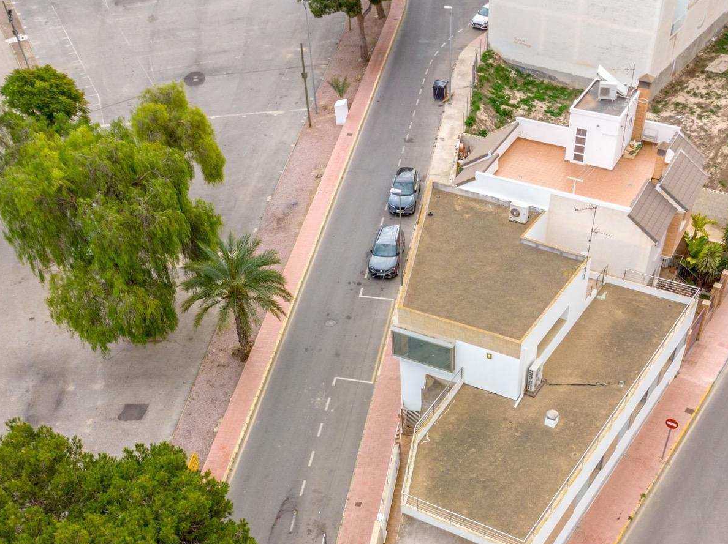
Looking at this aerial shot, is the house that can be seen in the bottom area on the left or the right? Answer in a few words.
right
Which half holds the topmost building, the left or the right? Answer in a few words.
right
